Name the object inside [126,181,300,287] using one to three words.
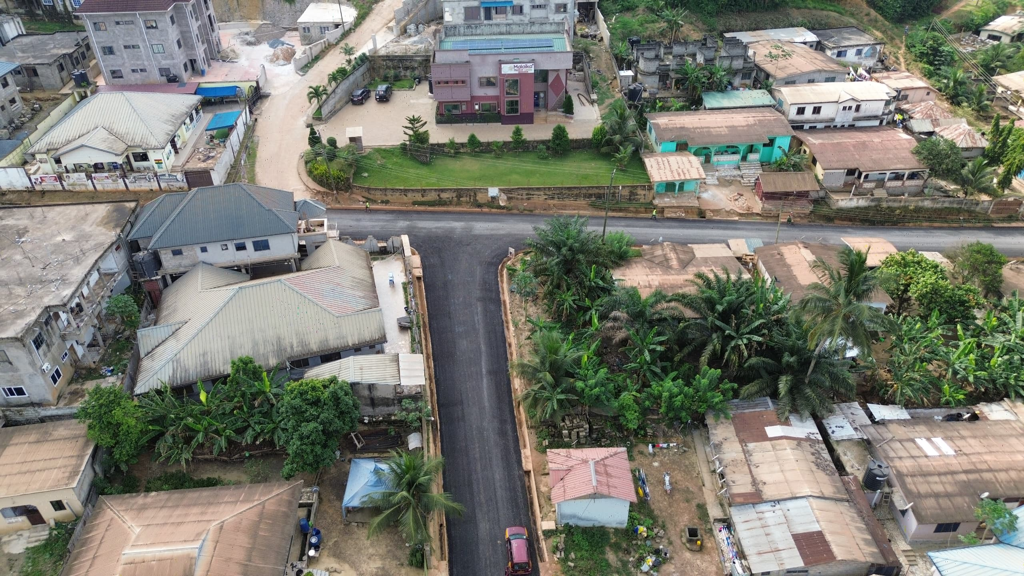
house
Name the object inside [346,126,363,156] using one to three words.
shed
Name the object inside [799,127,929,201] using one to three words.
house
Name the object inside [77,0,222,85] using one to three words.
building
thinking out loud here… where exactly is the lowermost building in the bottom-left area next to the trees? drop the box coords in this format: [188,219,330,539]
[61,479,303,576]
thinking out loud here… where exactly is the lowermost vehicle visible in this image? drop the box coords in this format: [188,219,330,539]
[503,525,531,576]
